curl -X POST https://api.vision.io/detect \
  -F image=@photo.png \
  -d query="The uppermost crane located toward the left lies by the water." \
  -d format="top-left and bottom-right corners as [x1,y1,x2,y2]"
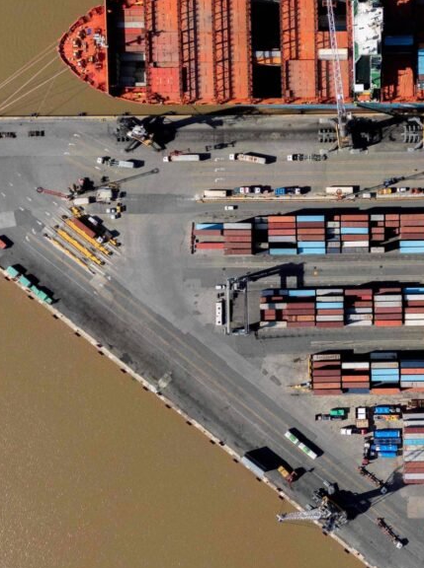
[116,111,163,152]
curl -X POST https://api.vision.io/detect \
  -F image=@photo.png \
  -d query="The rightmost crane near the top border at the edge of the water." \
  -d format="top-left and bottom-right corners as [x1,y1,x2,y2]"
[322,0,362,156]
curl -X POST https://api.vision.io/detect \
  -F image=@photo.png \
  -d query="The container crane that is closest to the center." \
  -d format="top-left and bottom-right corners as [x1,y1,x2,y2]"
[224,278,259,337]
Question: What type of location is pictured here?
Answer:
port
